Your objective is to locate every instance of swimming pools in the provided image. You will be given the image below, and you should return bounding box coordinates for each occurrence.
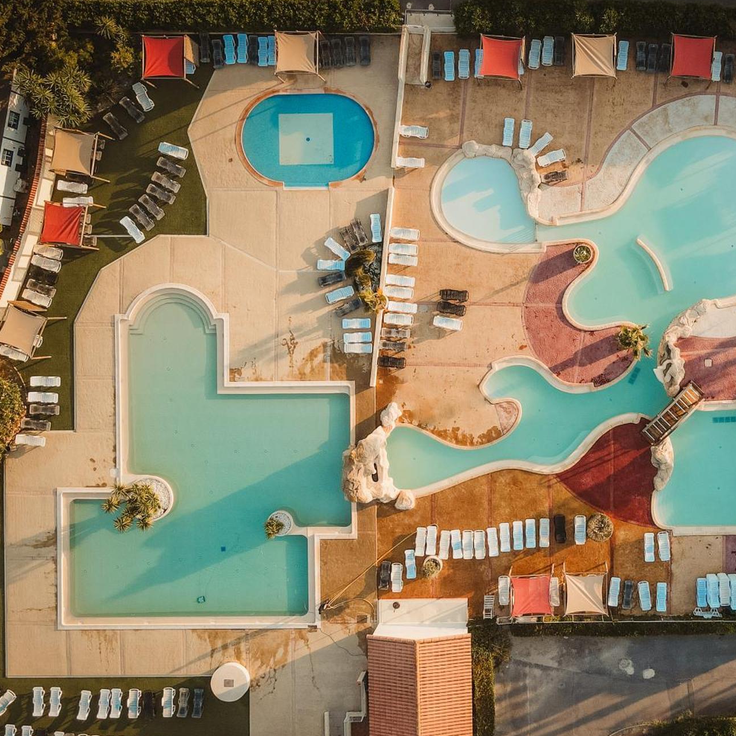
[381,124,736,534]
[431,149,547,252]
[238,88,379,188]
[57,283,356,629]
